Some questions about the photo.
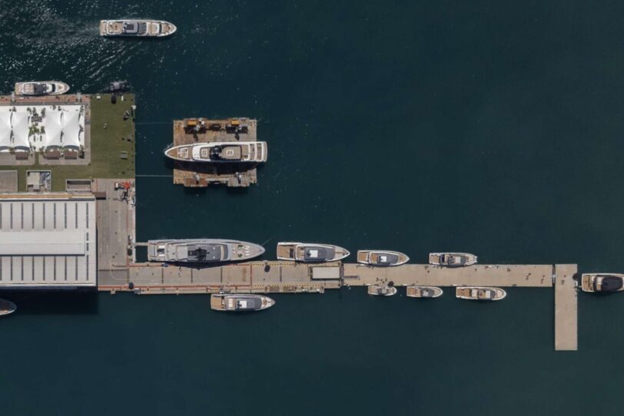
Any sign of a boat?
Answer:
Yes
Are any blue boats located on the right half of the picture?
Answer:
No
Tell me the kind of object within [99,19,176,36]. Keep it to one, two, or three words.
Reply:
boat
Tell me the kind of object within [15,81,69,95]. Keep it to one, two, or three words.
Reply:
boat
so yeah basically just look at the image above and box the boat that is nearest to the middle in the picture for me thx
[276,242,350,260]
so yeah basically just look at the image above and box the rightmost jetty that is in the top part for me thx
[173,117,256,187]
